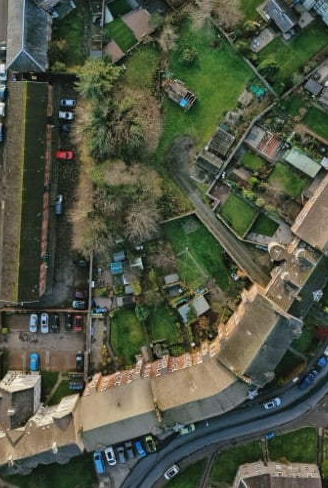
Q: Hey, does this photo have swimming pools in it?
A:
No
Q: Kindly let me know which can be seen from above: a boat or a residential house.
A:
residential house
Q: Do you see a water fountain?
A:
No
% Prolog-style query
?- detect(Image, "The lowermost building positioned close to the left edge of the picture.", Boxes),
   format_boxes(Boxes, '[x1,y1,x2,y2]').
[0,377,83,476]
